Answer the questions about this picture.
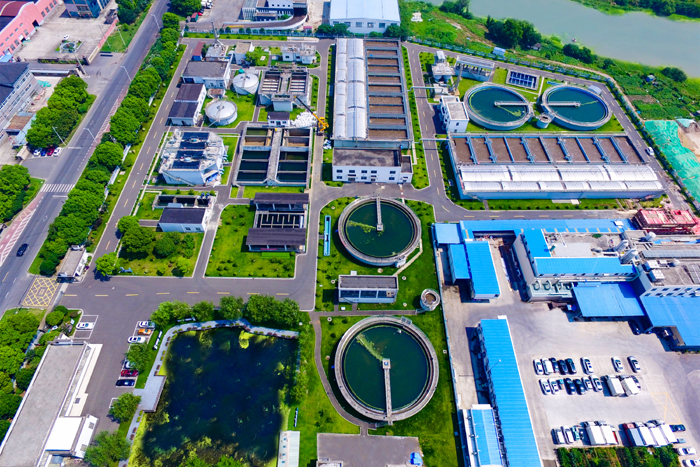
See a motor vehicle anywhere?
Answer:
Yes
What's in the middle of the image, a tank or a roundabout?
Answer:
tank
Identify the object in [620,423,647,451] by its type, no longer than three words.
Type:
truck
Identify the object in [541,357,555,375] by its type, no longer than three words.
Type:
vehicle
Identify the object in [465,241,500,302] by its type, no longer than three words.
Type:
building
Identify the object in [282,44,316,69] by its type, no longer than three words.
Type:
house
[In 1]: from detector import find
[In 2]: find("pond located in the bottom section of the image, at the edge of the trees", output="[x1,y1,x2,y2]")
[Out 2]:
[139,325,300,467]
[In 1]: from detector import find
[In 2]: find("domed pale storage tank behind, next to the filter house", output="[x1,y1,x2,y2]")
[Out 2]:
[232,68,260,100]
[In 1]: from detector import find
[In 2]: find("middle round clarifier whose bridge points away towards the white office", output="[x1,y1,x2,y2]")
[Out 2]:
[338,193,422,268]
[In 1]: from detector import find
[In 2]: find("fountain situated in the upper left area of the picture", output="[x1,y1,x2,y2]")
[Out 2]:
[50,39,88,56]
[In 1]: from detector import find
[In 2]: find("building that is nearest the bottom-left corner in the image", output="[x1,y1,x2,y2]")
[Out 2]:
[0,345,108,467]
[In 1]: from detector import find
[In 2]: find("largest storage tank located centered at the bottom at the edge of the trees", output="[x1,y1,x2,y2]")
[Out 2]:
[334,315,440,423]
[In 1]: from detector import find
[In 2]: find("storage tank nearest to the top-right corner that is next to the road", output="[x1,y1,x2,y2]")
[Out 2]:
[537,79,615,133]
